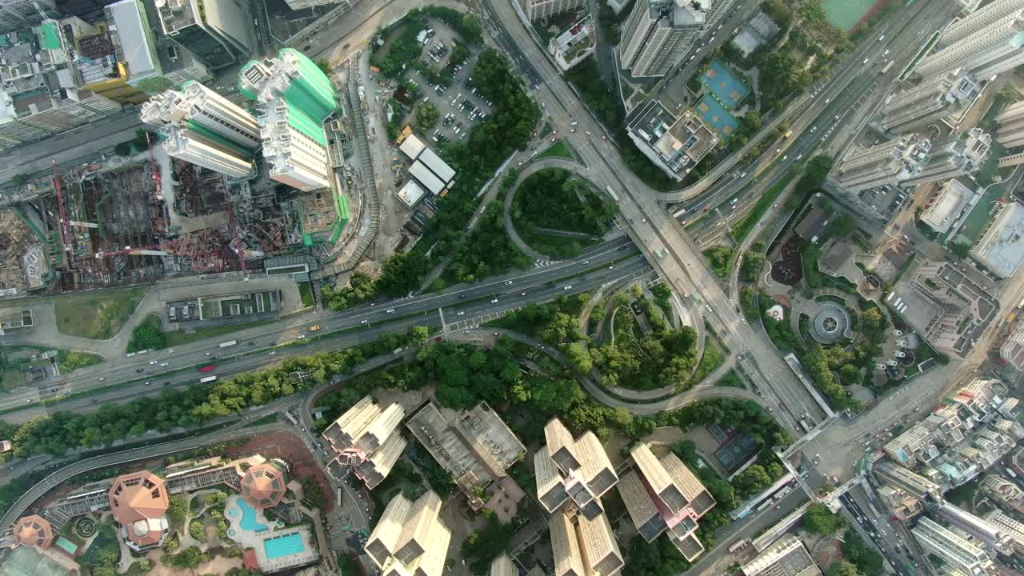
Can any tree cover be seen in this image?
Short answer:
Yes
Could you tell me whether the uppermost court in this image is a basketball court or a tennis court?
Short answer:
basketball court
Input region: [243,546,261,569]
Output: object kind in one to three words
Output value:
shed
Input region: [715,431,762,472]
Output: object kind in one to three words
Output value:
basketball court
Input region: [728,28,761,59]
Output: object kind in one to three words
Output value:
building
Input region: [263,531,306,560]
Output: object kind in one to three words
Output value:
swimming pool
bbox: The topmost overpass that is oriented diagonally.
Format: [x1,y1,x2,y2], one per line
[577,134,706,290]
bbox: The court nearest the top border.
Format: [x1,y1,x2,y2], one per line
[700,59,751,109]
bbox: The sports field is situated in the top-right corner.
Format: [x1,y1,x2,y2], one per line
[819,0,884,34]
